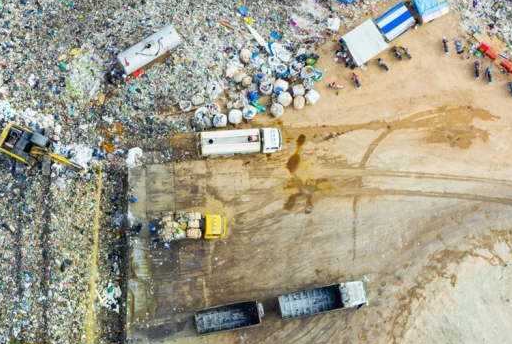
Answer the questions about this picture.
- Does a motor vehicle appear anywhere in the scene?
Yes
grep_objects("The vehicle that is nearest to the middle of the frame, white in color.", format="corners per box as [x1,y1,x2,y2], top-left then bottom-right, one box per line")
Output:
[198,129,283,158]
